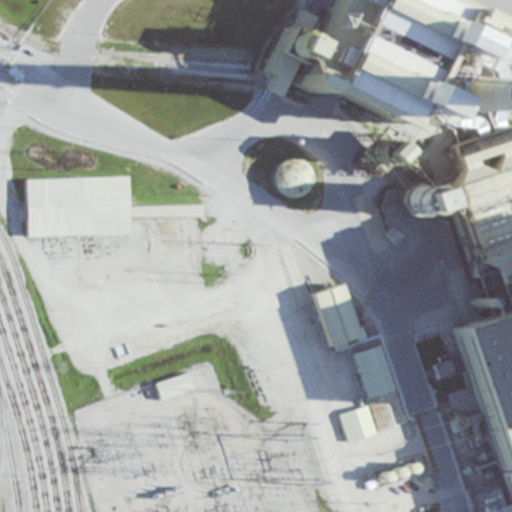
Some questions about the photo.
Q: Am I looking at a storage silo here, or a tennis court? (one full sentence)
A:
I can see a storage silo in this picture.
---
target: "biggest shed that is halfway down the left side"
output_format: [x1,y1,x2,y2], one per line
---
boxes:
[22,176,132,237]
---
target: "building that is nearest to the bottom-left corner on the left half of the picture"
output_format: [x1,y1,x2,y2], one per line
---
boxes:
[153,373,196,400]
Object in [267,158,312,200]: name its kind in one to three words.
storage tank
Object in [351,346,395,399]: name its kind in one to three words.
building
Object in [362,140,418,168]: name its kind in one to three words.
silo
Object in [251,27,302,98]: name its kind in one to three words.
house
